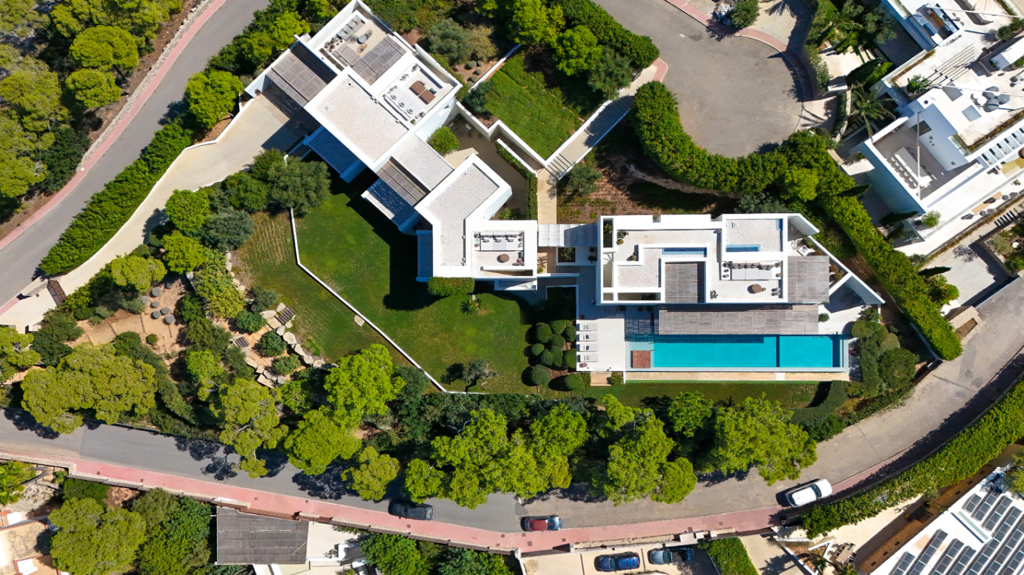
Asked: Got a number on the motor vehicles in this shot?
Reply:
5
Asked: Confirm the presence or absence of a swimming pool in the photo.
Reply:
Yes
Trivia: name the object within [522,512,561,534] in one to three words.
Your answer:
car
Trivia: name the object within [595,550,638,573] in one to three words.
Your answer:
car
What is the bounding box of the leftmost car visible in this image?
[389,496,435,523]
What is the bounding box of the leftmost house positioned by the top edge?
[245,0,467,229]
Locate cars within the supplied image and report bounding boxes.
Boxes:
[595,550,638,573]
[389,496,435,523]
[522,512,561,534]
[648,545,692,567]
[784,476,831,511]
